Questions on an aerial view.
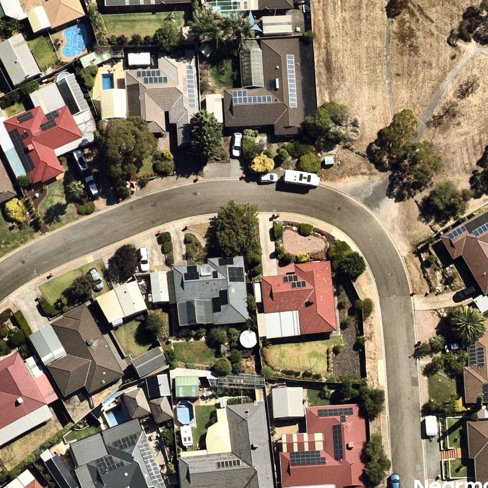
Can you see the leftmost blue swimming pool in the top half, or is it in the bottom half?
top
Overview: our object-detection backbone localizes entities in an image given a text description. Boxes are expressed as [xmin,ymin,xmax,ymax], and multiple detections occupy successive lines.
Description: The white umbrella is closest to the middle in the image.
[240,330,256,347]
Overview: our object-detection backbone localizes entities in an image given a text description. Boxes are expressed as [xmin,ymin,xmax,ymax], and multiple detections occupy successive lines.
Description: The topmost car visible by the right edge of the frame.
[453,286,476,303]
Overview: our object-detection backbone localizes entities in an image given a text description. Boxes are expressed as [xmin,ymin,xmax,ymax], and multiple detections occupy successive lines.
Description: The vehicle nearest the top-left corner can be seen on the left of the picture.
[73,148,88,173]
